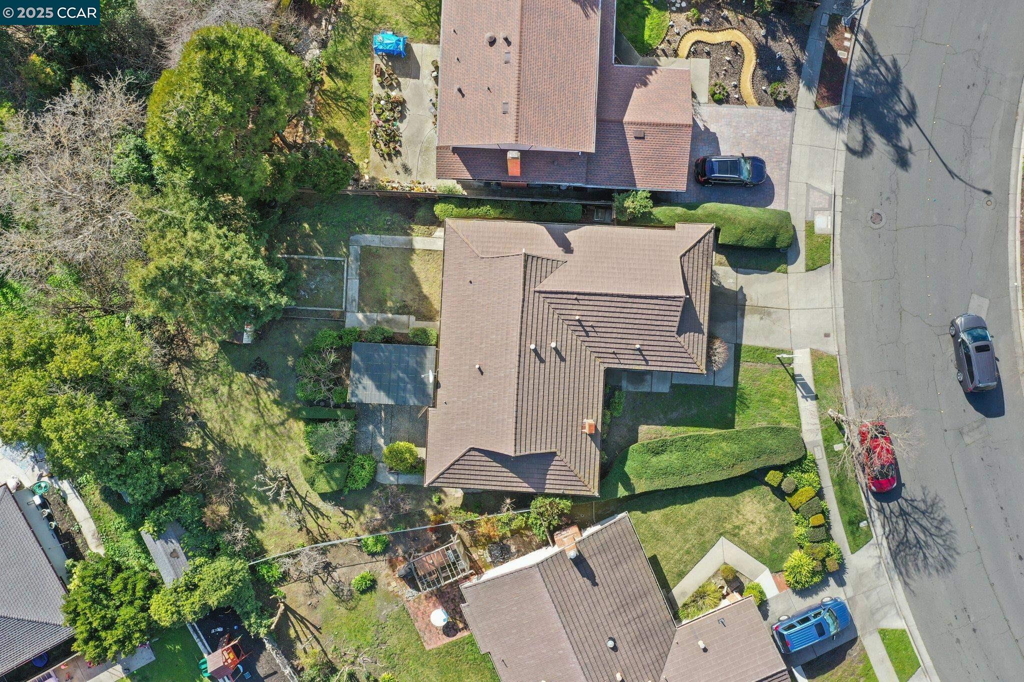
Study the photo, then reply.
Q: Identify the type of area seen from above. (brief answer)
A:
residential area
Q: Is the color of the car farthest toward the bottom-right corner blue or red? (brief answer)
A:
blue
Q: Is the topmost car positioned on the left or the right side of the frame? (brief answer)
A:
right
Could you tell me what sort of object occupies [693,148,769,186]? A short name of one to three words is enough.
car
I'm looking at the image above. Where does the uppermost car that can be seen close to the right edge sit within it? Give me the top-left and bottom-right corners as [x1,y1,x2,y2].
[950,311,1005,392]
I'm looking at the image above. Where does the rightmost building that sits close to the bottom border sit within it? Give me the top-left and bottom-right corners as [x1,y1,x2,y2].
[458,508,797,682]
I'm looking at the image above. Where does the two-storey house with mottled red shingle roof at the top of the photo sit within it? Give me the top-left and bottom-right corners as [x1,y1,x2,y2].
[436,0,695,191]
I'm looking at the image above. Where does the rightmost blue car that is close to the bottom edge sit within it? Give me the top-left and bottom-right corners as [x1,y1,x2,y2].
[771,598,855,659]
